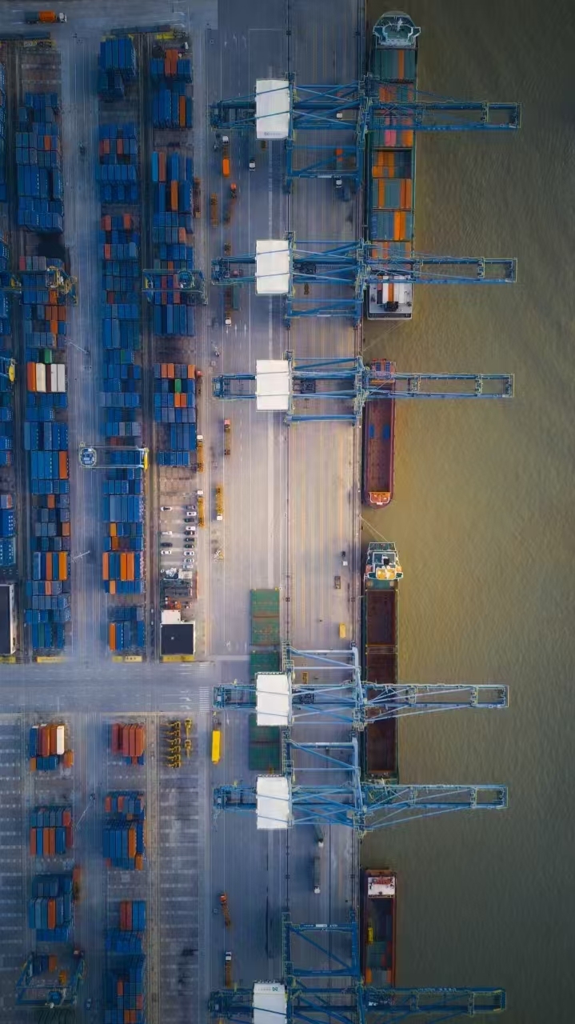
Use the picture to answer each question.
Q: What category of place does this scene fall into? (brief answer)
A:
port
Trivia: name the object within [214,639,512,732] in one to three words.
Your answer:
container crane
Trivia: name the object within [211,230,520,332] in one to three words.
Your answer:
container crane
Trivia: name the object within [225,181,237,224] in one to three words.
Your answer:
vehicle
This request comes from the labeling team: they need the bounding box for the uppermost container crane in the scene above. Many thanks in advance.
[210,60,522,195]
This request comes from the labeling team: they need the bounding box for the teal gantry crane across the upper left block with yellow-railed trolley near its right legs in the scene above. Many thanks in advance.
[0,271,77,317]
